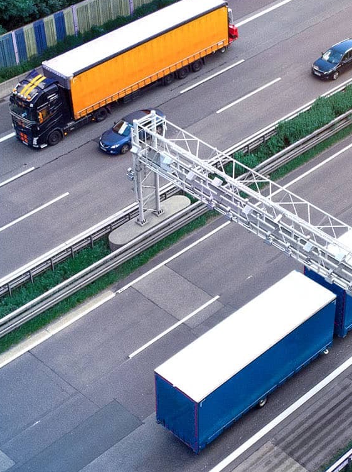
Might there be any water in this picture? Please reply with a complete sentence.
No, there's no water in this view.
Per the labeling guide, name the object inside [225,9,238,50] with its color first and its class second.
red vehicle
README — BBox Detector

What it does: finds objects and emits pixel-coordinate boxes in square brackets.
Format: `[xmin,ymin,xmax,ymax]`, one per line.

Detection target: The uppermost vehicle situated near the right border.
[307,37,352,80]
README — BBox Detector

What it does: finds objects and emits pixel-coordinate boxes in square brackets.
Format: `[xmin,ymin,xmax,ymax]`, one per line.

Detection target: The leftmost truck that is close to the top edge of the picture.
[2,0,227,150]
